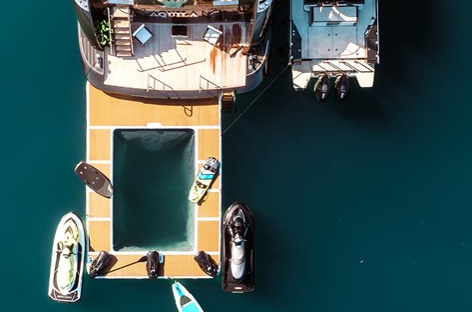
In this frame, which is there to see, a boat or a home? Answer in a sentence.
This aerial view contains a boat.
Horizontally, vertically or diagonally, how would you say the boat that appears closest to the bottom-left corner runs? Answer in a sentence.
The boat that appears closest to the bottom-left corner has been laid out vertically relative to the frame.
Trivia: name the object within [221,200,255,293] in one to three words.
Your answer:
boat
